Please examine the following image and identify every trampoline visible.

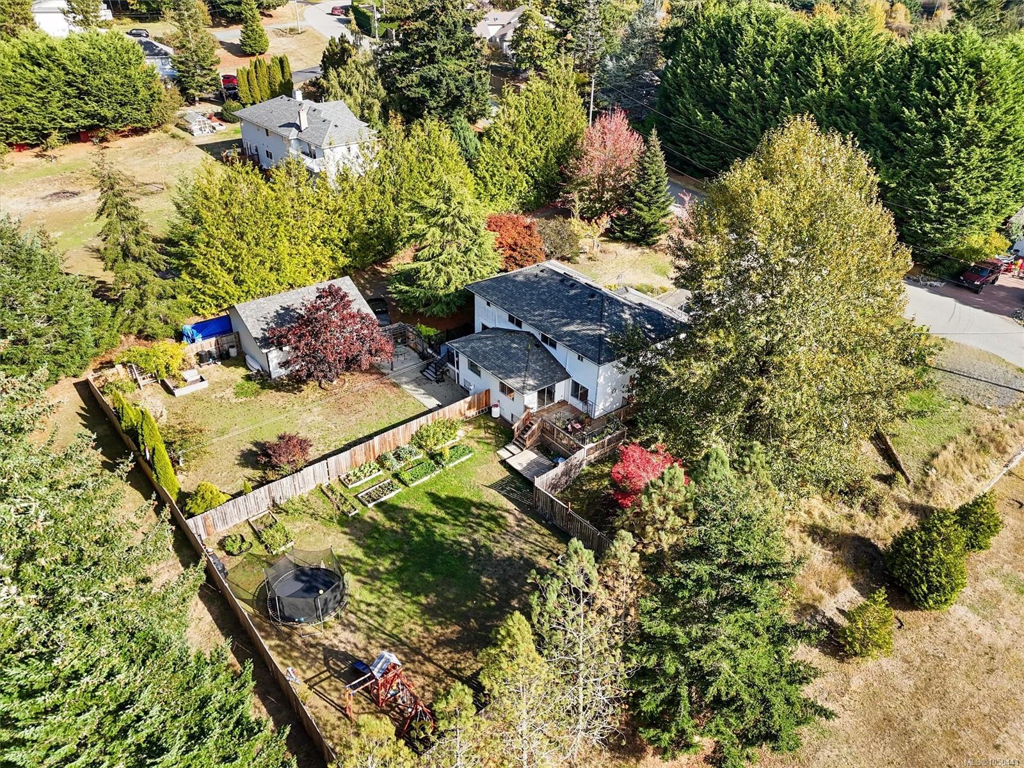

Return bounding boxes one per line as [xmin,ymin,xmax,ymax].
[259,530,352,633]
